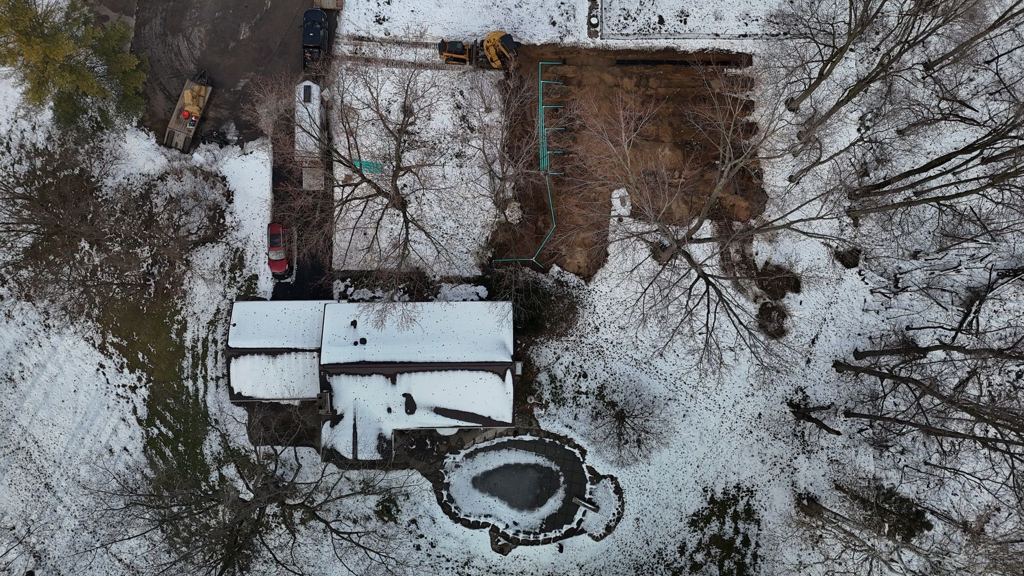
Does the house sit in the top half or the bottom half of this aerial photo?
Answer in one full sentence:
The bottom half of the photo is where the house is.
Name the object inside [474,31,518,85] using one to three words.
work vehicle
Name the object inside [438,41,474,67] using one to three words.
work vehicle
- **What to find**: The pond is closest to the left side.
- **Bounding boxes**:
[442,435,590,538]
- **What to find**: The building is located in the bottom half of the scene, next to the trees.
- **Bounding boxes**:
[225,299,513,461]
